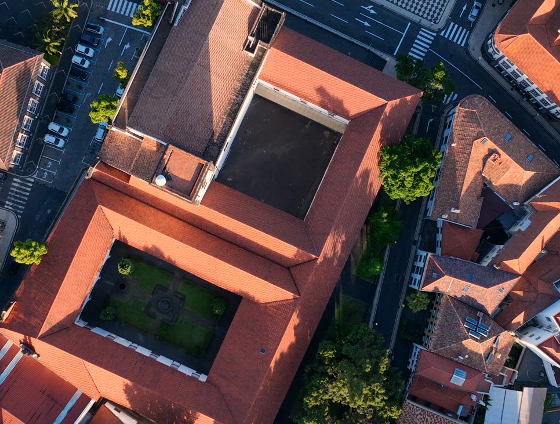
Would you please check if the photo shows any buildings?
Yes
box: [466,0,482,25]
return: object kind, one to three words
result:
car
